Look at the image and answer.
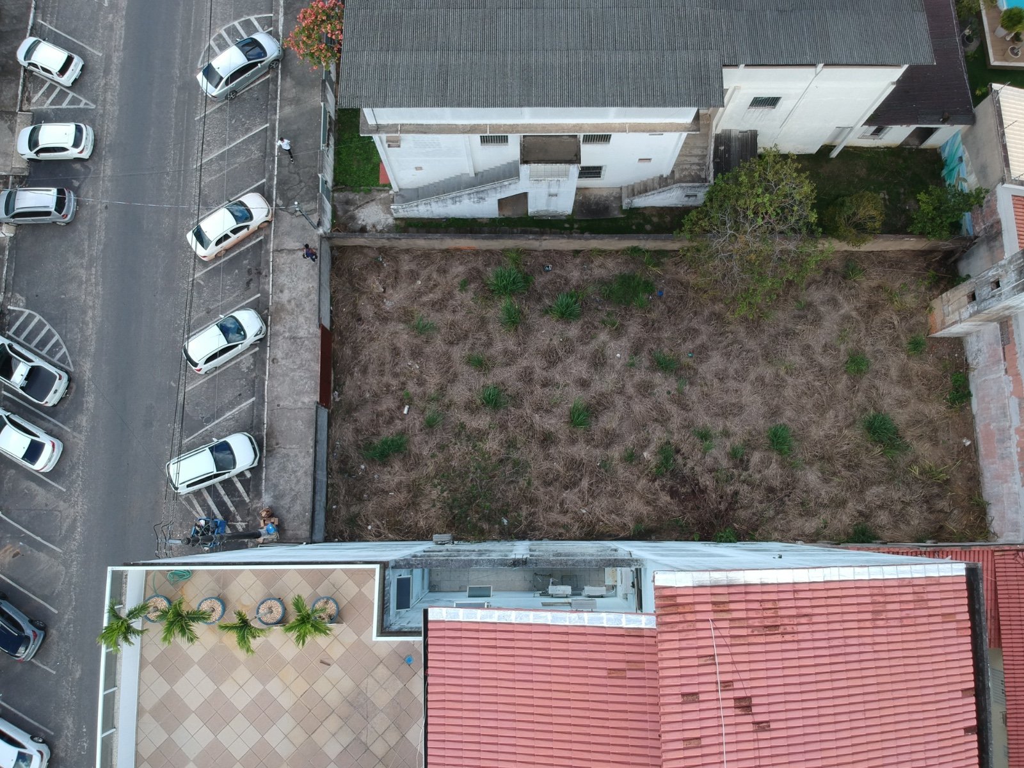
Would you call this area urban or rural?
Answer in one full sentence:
The land in this view is best described as urban.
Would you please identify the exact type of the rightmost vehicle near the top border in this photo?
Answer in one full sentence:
Looking closely, the rightmost vehicle near the top border is a car.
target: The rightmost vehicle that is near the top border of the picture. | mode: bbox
[195,33,284,101]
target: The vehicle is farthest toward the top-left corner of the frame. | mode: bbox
[11,33,89,90]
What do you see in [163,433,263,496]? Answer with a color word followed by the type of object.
white car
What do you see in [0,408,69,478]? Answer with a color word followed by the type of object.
white car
